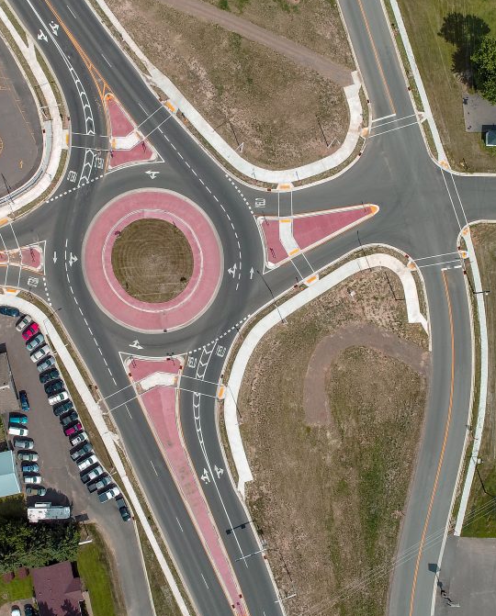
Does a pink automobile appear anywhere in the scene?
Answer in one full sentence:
Yes, looking at the shot, I can spot a pink automobile.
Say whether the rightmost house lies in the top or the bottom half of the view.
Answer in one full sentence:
The bottom half of the photo is where the rightmost house is.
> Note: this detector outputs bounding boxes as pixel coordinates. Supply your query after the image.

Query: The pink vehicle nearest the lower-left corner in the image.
[62,422,85,436]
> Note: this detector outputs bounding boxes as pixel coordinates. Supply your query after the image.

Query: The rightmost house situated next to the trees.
[32,560,86,616]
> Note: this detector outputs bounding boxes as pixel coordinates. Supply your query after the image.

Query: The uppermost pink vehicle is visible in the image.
[21,322,40,340]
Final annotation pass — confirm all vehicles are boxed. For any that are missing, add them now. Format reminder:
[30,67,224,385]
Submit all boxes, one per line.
[77,454,99,469]
[25,334,46,351]
[39,368,61,383]
[44,380,65,395]
[8,427,29,437]
[11,607,21,616]
[31,345,51,361]
[25,486,47,497]
[70,444,92,460]
[15,315,33,333]
[96,488,121,504]
[17,452,39,460]
[48,391,69,405]
[62,422,85,436]
[79,465,104,483]
[18,389,30,411]
[25,605,34,616]
[24,476,42,483]
[87,476,111,493]
[13,439,34,449]
[36,357,55,373]
[69,431,88,446]
[0,306,20,315]
[53,401,73,416]
[21,322,40,340]
[21,463,39,473]
[7,416,30,423]
[59,411,80,426]
[114,497,131,521]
